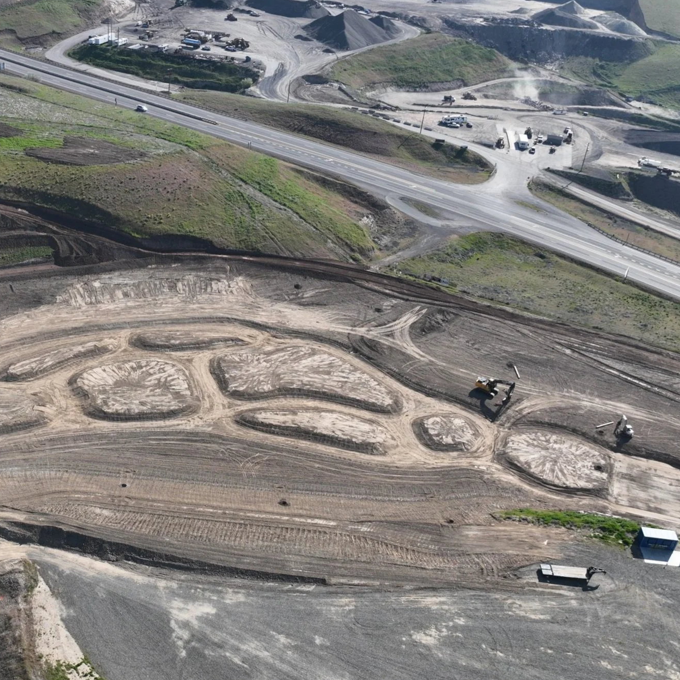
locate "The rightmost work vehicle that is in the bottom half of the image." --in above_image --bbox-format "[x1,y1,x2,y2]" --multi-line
[612,416,641,442]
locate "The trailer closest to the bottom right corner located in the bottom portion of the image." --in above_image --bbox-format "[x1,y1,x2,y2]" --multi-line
[539,564,607,582]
